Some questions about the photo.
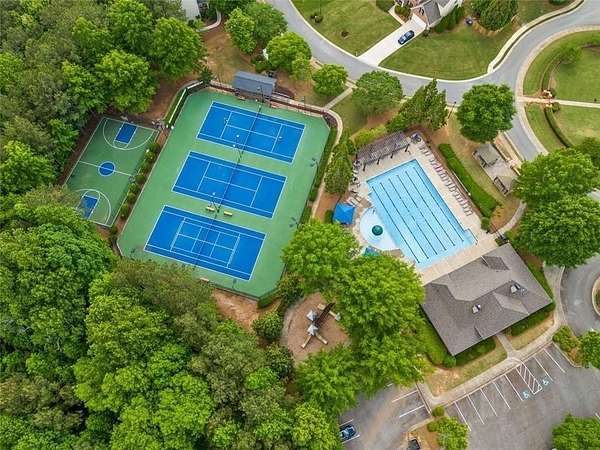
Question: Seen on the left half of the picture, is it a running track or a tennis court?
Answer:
tennis court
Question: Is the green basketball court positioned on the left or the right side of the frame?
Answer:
left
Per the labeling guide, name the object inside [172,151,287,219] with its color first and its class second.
blue tennis court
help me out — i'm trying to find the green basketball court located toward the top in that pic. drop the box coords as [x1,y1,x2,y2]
[63,117,159,225]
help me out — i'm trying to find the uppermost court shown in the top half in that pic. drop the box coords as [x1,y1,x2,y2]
[196,102,306,163]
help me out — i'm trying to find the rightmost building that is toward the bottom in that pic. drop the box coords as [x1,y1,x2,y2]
[422,243,551,356]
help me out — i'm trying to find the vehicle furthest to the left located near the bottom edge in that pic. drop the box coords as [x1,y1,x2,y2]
[344,424,360,440]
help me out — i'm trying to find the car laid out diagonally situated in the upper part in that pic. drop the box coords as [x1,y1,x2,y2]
[398,28,415,42]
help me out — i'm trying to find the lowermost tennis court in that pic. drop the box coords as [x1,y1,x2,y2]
[144,205,267,281]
